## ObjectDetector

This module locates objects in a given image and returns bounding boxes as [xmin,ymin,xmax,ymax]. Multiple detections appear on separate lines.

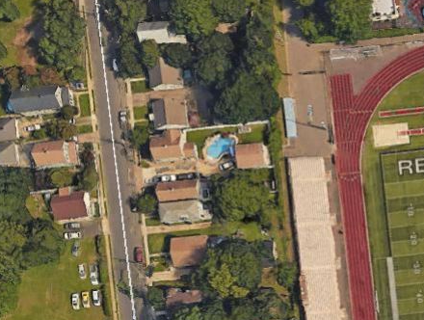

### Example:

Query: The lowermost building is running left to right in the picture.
[166,286,214,305]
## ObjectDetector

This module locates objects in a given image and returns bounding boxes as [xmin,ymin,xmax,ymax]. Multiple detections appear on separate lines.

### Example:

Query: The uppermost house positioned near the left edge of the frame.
[0,85,81,115]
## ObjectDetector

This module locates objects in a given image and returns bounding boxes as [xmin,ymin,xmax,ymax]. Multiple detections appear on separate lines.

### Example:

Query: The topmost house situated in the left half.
[138,22,175,44]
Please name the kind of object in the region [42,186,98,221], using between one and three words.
house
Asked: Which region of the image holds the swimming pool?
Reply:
center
